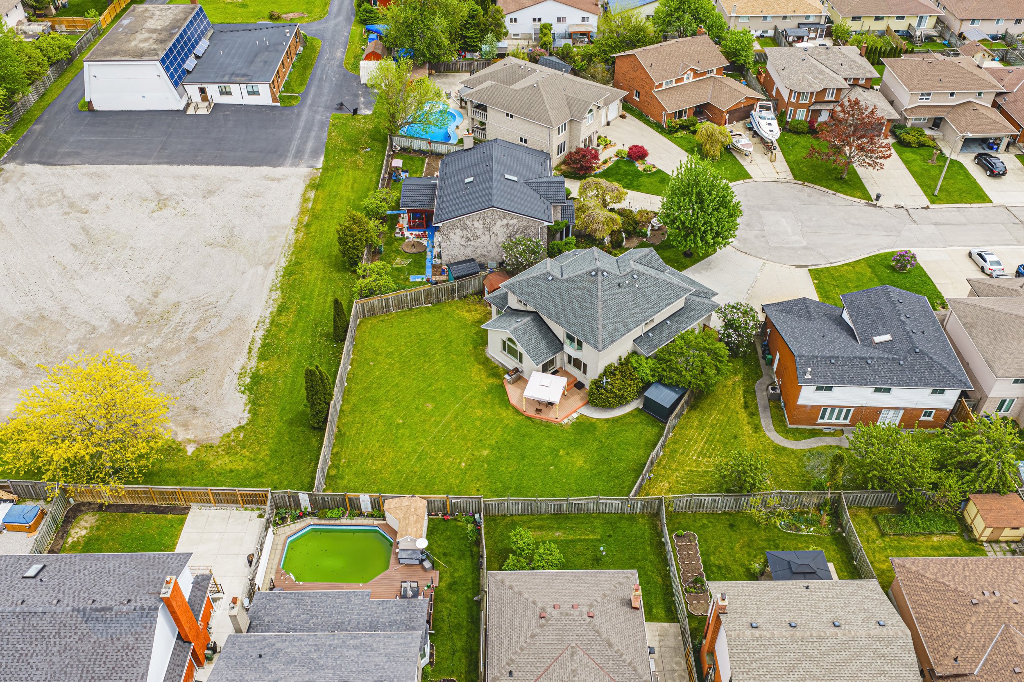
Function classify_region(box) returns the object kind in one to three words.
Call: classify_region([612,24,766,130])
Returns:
house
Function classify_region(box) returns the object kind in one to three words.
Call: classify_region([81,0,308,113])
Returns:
building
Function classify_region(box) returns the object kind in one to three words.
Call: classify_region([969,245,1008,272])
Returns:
car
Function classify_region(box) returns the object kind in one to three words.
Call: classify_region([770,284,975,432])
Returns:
house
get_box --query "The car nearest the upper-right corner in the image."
[975,153,1010,175]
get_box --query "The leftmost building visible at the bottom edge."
[0,552,230,682]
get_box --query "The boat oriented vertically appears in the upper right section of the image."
[751,97,780,155]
